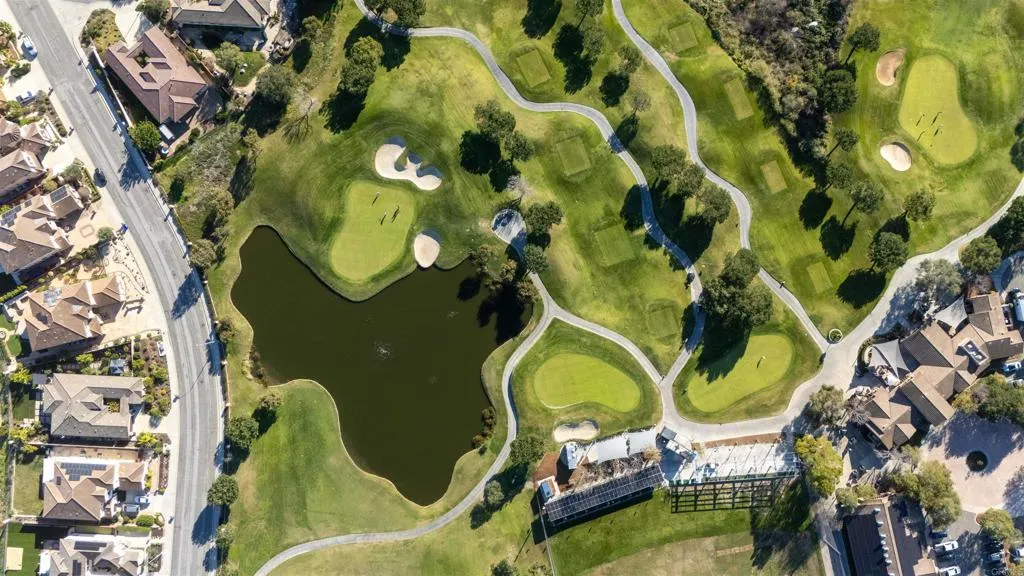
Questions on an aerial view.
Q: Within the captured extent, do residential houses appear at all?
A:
Yes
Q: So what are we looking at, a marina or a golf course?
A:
golf course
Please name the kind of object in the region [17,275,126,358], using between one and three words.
house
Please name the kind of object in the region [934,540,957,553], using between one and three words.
vehicle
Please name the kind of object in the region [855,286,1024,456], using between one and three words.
building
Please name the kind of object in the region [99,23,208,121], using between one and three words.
house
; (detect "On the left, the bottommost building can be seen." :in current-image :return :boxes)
[49,538,143,576]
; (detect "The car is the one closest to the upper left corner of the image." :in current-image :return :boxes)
[19,36,37,57]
